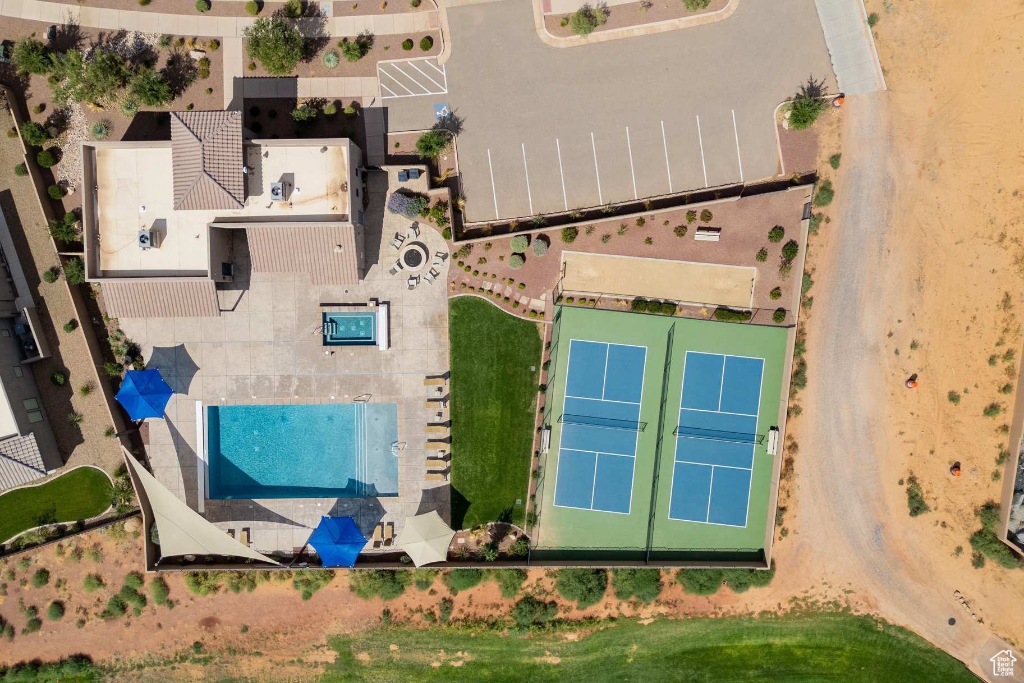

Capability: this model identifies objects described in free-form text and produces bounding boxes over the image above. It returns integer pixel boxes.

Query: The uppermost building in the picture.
[81,109,367,318]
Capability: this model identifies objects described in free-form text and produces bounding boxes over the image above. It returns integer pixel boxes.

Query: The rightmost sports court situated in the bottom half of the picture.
[649,317,787,562]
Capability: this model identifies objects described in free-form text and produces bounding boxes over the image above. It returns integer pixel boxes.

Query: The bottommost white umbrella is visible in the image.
[396,509,457,569]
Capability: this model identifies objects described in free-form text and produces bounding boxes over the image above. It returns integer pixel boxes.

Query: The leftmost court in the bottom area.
[529,305,675,562]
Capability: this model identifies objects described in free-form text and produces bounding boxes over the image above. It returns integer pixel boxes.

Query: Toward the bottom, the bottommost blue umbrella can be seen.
[308,515,369,568]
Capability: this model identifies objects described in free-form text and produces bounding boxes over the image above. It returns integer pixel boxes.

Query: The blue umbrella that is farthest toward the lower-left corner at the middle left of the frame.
[115,367,174,422]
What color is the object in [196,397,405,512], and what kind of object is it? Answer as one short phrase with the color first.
blue swimming pool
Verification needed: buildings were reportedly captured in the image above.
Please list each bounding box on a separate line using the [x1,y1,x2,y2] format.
[81,109,367,318]
[0,244,63,490]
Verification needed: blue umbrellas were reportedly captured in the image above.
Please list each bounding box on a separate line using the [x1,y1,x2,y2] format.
[115,367,174,422]
[308,515,369,568]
